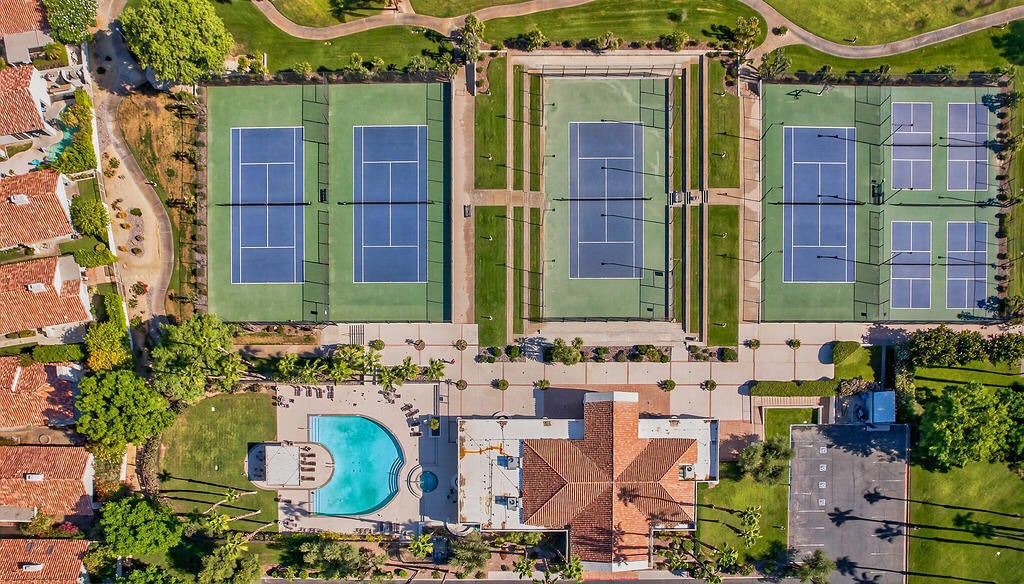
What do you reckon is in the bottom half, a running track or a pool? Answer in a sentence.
The feature located in the bottom half is a pool.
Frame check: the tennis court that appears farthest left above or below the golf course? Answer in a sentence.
The tennis court that appears farthest left appears below the golf course in the picture.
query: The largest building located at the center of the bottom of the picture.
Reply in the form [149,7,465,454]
[457,392,719,569]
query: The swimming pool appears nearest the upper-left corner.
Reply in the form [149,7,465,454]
[44,100,77,162]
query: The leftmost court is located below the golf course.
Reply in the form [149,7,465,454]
[207,85,329,322]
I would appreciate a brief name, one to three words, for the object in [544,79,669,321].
tennis court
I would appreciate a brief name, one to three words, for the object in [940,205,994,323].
sports court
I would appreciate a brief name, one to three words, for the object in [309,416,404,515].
swimming pool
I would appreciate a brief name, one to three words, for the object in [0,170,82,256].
house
